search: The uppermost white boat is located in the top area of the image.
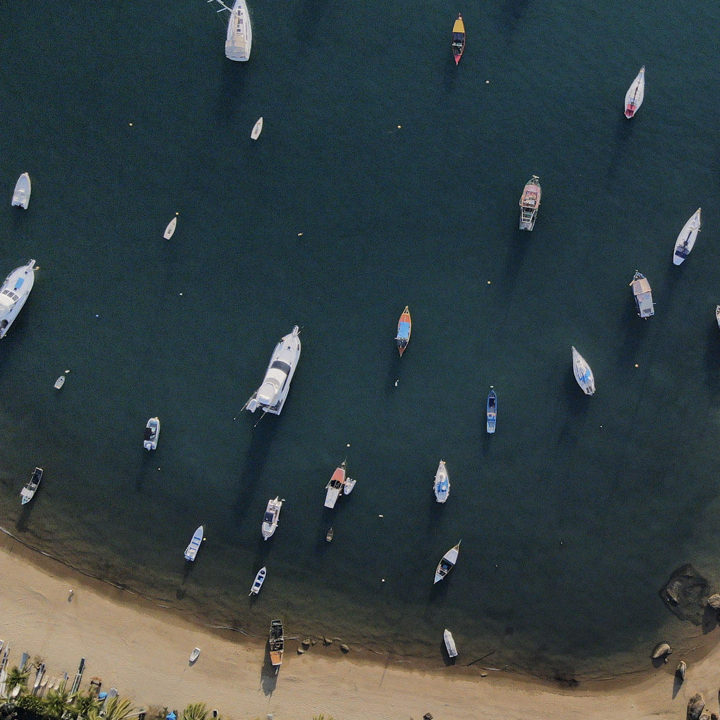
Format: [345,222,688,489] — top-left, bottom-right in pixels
[208,0,251,64]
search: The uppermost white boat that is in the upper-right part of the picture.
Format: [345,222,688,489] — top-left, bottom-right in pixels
[625,65,646,121]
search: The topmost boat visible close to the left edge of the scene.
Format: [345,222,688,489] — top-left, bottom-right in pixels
[13,173,35,211]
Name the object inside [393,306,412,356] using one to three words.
boat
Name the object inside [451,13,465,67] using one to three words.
boat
